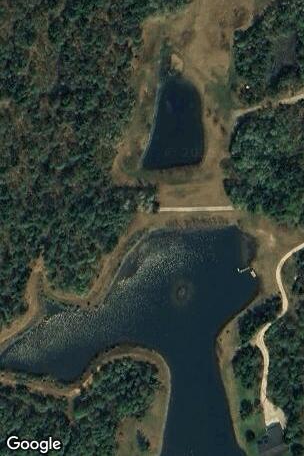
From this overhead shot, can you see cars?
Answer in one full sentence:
No, there's no car here.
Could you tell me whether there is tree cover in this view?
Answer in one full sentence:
Yes, tree cover shows up in the scene.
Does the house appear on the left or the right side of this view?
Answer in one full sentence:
You can find the house on the right side of the picture.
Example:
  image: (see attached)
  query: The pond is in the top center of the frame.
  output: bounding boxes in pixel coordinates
[143,74,204,168]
